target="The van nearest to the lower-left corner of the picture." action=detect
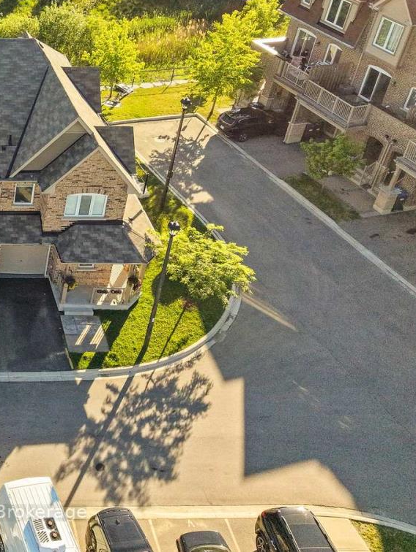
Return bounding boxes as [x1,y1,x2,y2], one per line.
[0,474,77,552]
